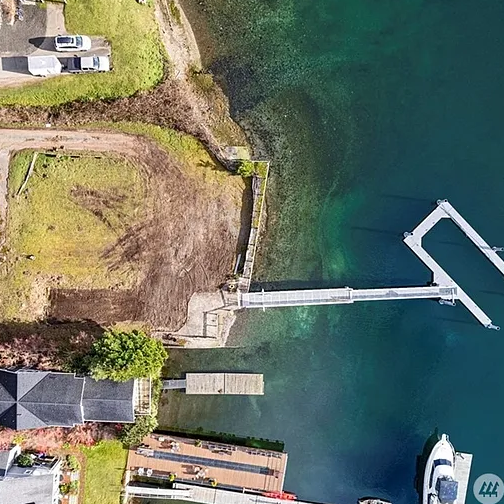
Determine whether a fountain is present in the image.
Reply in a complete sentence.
No, I can't see a single fountain in this photo.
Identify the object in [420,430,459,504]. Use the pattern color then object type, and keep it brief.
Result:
white boat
